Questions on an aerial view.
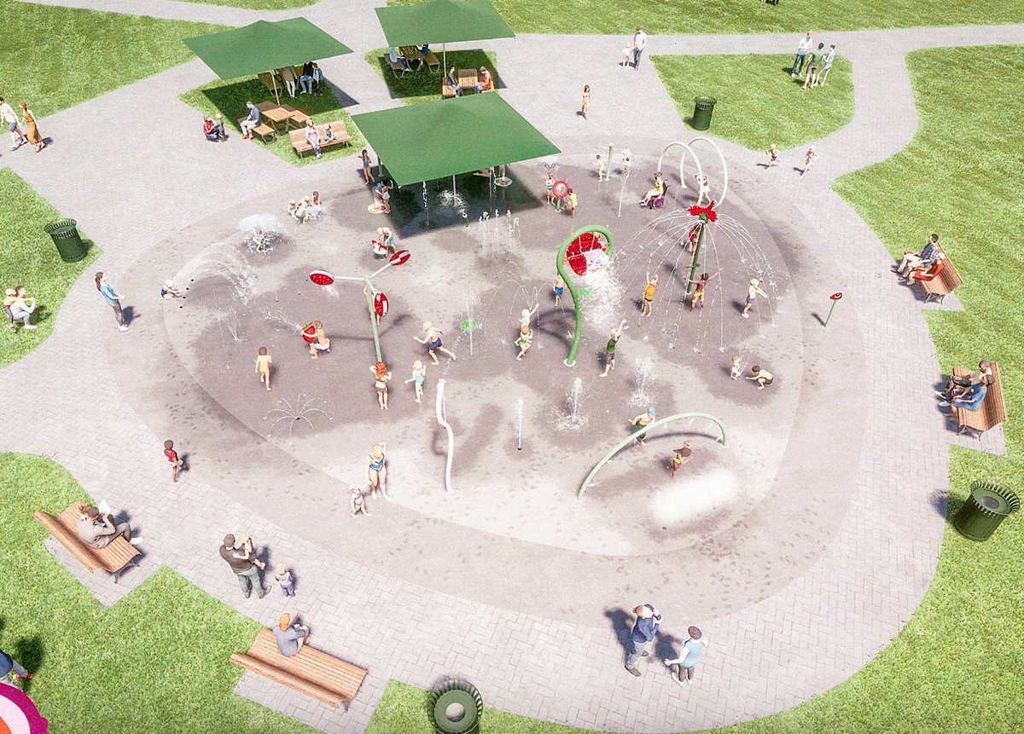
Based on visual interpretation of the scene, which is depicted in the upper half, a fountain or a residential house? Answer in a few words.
fountain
